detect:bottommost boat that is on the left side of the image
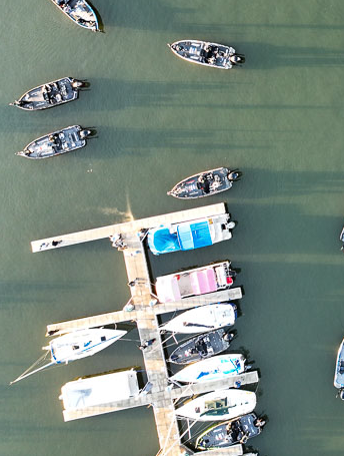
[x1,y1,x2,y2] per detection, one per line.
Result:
[52,370,140,411]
